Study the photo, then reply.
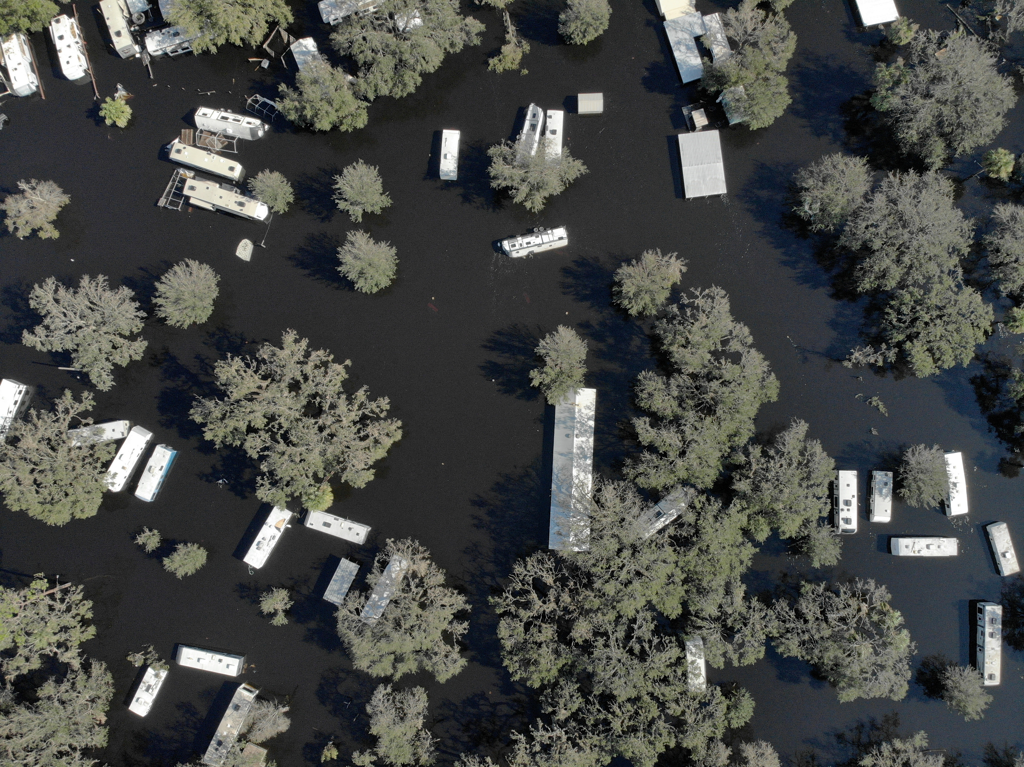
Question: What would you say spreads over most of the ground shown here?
water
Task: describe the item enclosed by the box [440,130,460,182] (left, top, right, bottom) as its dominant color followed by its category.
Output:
white trailer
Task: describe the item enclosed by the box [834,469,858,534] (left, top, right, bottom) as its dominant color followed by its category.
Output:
white vehicle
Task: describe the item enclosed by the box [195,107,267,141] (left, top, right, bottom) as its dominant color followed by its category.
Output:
white trailer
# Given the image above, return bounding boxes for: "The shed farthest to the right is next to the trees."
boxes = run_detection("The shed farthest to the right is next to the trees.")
[850,0,899,33]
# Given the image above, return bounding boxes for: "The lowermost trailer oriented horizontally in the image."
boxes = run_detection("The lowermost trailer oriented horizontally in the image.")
[177,644,245,677]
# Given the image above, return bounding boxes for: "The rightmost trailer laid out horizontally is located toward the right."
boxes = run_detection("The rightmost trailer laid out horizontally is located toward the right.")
[886,535,959,556]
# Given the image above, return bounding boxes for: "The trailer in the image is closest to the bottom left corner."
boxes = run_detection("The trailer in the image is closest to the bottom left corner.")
[129,661,170,716]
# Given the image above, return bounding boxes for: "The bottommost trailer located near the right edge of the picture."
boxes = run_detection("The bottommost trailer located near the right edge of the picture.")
[976,602,1002,685]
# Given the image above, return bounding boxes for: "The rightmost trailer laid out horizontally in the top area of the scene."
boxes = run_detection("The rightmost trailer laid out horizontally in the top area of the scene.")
[502,226,568,257]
